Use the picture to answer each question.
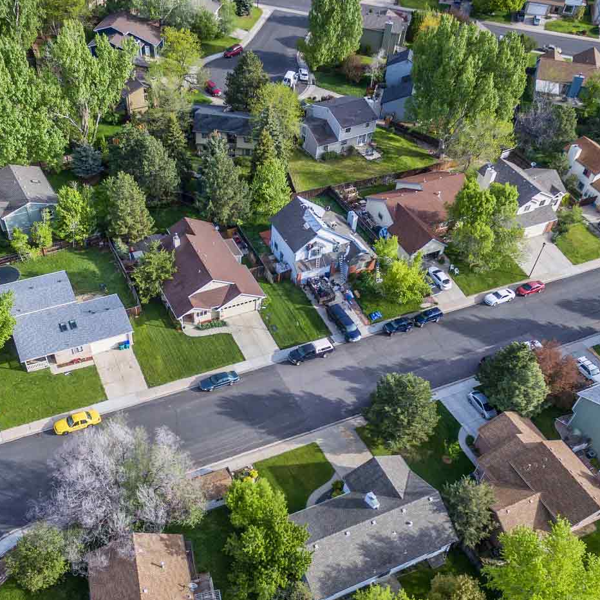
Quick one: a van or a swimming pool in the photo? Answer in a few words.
van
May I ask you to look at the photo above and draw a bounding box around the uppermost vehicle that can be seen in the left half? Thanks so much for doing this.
[225,42,241,55]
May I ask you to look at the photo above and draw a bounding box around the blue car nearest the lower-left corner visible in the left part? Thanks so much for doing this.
[197,369,242,394]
